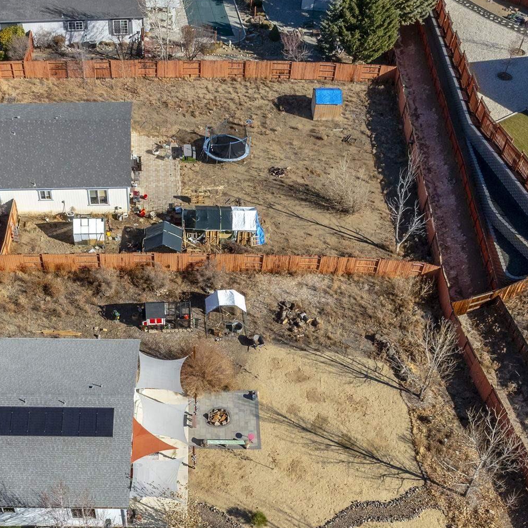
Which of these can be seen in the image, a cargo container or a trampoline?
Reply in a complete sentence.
I can see a trampoline in this picture.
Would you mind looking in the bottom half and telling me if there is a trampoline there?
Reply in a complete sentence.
No, in the bottom half there is no trampoline.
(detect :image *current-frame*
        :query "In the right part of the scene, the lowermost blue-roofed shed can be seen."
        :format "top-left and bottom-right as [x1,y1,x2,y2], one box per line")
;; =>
[311,87,345,119]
